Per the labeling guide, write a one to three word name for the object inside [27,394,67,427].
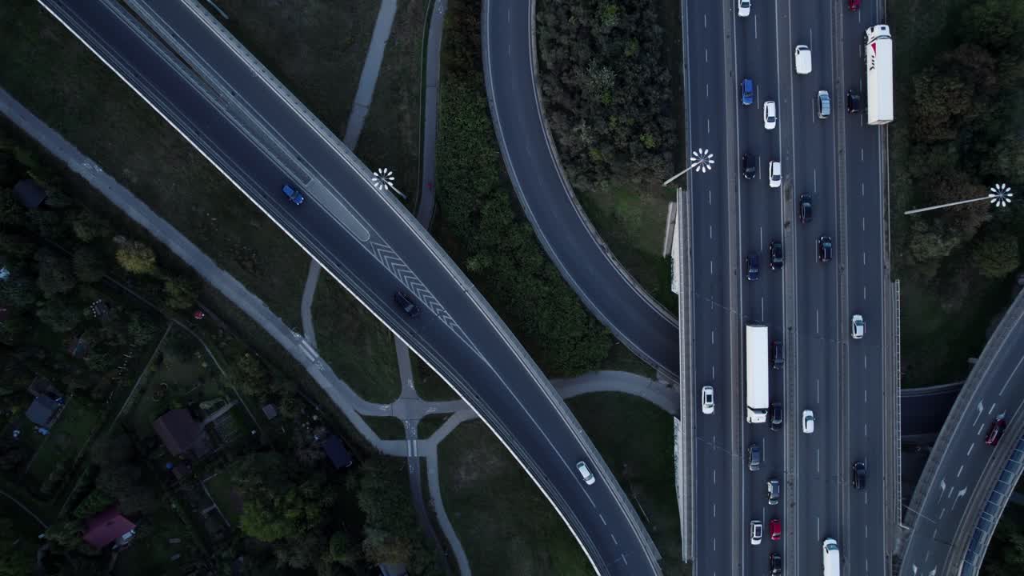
house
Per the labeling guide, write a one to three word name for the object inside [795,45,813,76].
vehicle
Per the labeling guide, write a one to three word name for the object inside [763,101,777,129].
car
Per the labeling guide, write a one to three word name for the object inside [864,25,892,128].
truck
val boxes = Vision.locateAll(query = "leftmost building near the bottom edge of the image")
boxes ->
[86,500,143,550]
